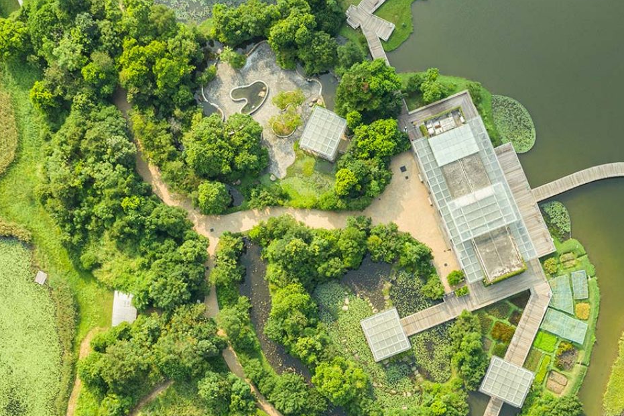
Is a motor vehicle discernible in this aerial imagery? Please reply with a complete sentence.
No, the frame has no motor vehicle in it.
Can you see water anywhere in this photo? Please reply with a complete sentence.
Yes, some water is visible.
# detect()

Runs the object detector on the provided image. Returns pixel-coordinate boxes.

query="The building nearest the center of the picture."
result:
[300,106,346,162]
